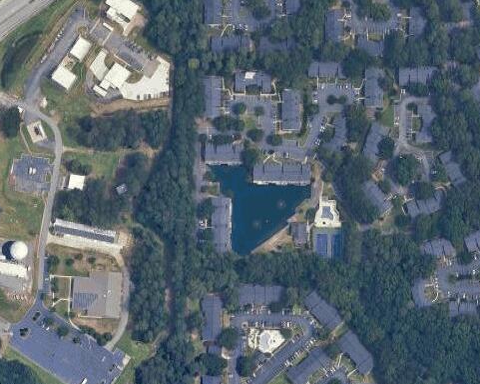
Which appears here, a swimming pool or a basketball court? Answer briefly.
swimming pool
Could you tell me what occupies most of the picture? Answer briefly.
trees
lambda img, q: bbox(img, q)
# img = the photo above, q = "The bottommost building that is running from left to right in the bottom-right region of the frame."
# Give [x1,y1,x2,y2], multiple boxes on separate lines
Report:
[449,302,478,317]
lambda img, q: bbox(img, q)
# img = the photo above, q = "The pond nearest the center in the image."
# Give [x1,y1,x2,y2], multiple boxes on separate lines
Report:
[208,164,309,255]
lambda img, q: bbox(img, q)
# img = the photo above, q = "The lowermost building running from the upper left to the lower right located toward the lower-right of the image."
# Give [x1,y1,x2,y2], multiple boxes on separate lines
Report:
[337,331,373,373]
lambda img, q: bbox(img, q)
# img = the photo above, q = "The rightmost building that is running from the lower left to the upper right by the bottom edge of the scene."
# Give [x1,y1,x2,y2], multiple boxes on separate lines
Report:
[288,351,332,384]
